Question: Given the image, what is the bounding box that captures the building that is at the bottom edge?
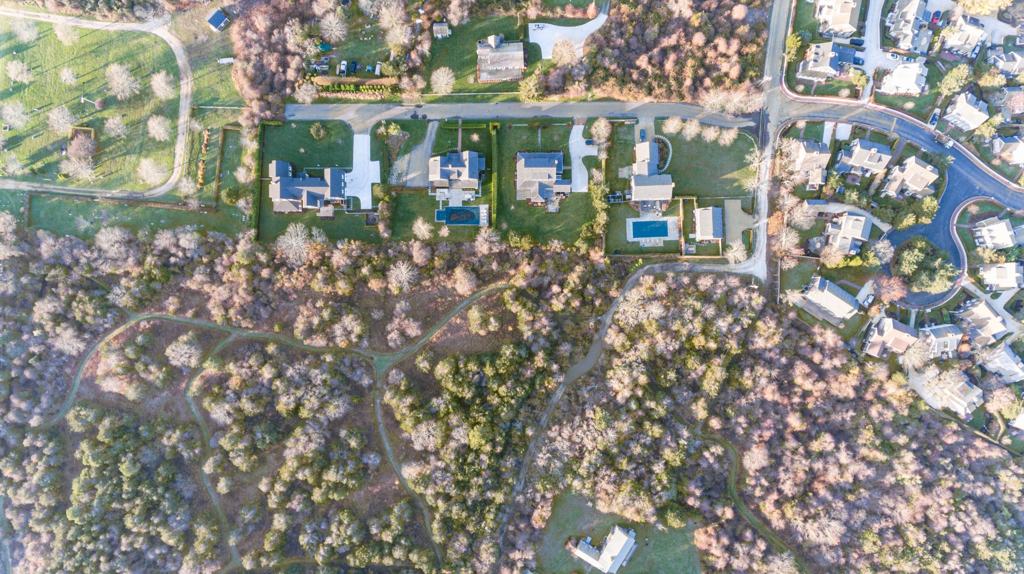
[570,523,641,574]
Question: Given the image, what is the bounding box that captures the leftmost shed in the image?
[206,7,231,33]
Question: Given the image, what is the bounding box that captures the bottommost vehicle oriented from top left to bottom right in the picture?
[935,132,954,147]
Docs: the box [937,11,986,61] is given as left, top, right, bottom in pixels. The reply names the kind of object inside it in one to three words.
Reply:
house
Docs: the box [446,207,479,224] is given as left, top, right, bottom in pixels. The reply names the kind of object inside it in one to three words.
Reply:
swimming pool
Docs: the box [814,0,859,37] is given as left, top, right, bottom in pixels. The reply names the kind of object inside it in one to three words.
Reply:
house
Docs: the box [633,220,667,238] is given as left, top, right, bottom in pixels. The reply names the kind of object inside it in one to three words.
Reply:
swimming pool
